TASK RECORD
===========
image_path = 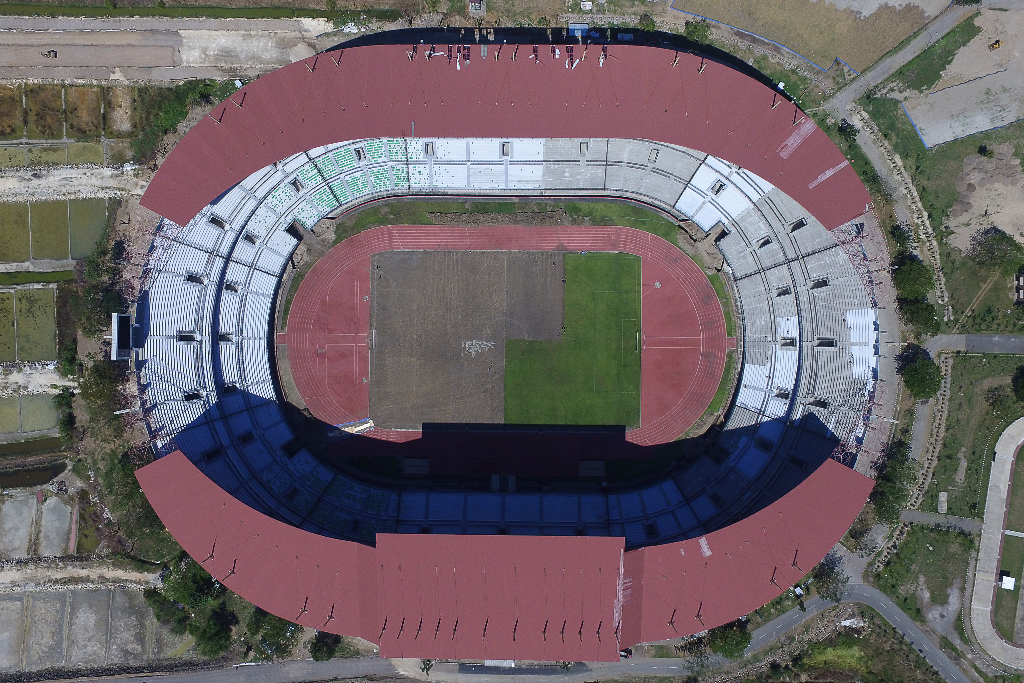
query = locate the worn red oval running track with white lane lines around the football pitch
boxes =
[279,225,736,476]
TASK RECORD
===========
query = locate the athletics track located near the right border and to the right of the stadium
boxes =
[970,417,1024,671]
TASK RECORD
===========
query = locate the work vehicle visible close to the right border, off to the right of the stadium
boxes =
[989,39,1007,52]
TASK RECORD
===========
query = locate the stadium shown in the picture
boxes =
[99,44,910,662]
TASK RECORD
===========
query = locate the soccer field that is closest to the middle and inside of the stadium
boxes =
[370,251,642,431]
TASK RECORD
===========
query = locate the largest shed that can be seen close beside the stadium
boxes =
[569,21,589,39]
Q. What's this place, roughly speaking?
sports ground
